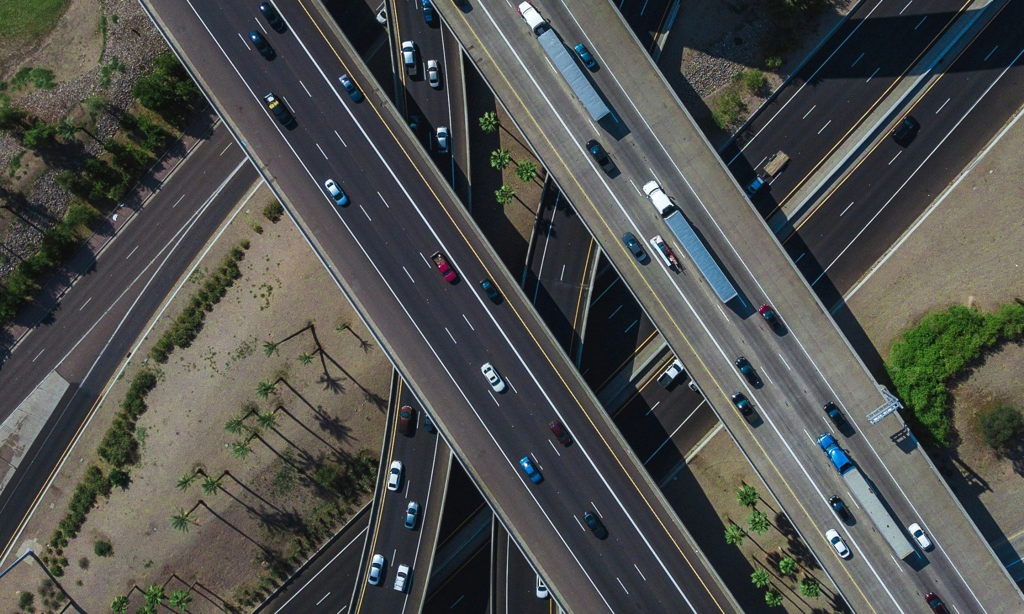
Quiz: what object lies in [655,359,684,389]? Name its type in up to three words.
truck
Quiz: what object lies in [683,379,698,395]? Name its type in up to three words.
car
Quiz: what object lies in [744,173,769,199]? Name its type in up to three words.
truck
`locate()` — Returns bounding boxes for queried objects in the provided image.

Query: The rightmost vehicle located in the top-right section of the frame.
[892,118,917,143]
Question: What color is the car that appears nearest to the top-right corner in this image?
black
